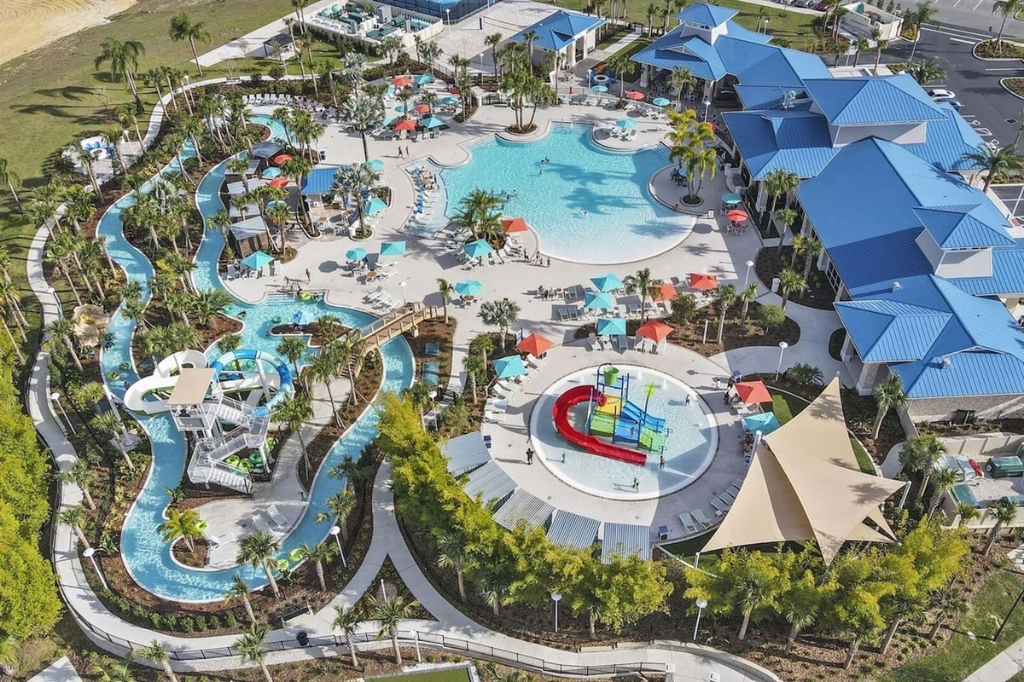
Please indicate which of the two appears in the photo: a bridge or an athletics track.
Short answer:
bridge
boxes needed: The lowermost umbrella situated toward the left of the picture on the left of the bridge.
[288,308,314,339]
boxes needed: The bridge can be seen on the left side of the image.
[333,292,449,380]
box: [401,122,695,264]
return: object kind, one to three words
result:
swimming pool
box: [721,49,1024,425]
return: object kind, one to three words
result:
building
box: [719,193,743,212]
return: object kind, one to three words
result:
umbrella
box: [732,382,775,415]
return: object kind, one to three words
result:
umbrella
